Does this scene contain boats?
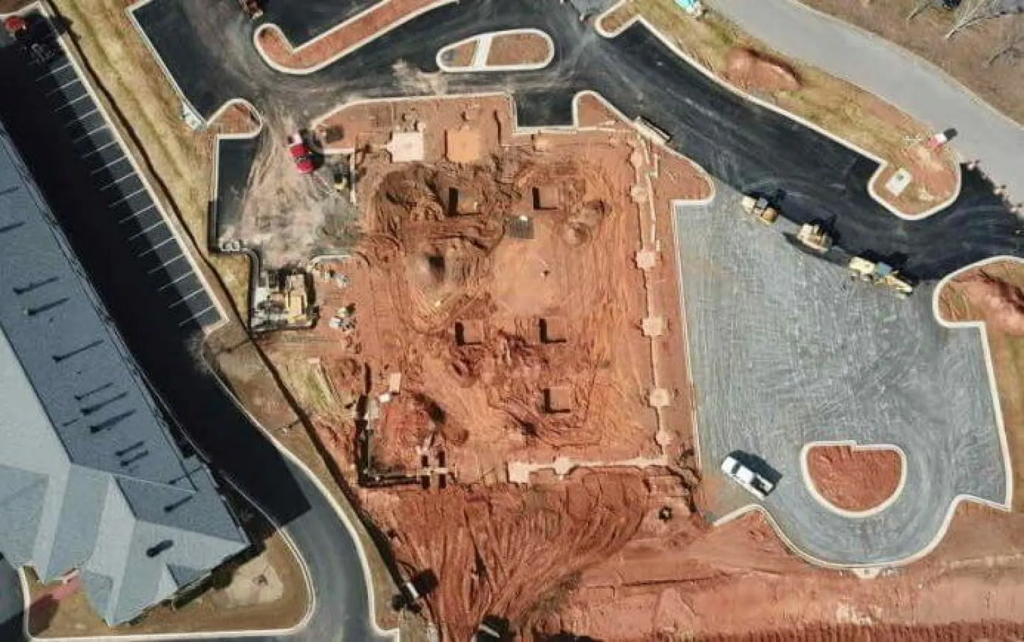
No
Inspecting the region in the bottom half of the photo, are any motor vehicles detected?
Yes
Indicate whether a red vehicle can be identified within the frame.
Yes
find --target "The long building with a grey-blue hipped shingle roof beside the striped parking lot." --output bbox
[0,101,249,626]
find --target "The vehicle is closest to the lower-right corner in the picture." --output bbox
[723,455,777,502]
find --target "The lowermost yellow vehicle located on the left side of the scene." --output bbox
[285,275,307,324]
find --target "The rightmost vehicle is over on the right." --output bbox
[851,255,915,296]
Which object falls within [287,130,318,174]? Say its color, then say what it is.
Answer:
red truck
